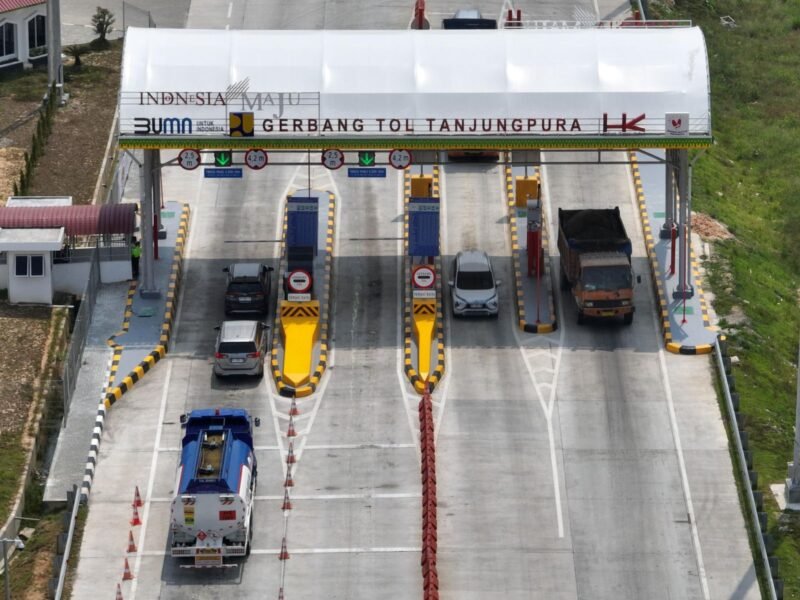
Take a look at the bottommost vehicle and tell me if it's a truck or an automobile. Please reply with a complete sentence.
Specifically, the bottommost vehicle is a truck.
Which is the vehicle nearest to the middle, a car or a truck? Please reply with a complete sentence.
The vehicle nearest to the middle in the image is a car.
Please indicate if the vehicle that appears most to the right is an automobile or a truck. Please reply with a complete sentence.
It looks like the vehicle that appears most to the right is a truck.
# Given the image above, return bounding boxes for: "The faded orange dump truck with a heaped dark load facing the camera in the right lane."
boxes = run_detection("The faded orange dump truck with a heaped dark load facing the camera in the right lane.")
[558,203,641,321]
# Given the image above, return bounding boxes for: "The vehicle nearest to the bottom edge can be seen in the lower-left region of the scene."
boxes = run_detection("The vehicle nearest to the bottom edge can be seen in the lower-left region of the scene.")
[168,404,256,567]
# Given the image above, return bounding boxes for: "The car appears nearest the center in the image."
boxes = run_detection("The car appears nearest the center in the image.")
[448,248,502,314]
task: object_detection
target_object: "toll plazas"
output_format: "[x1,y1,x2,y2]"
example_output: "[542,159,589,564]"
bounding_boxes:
[116,2,715,294]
